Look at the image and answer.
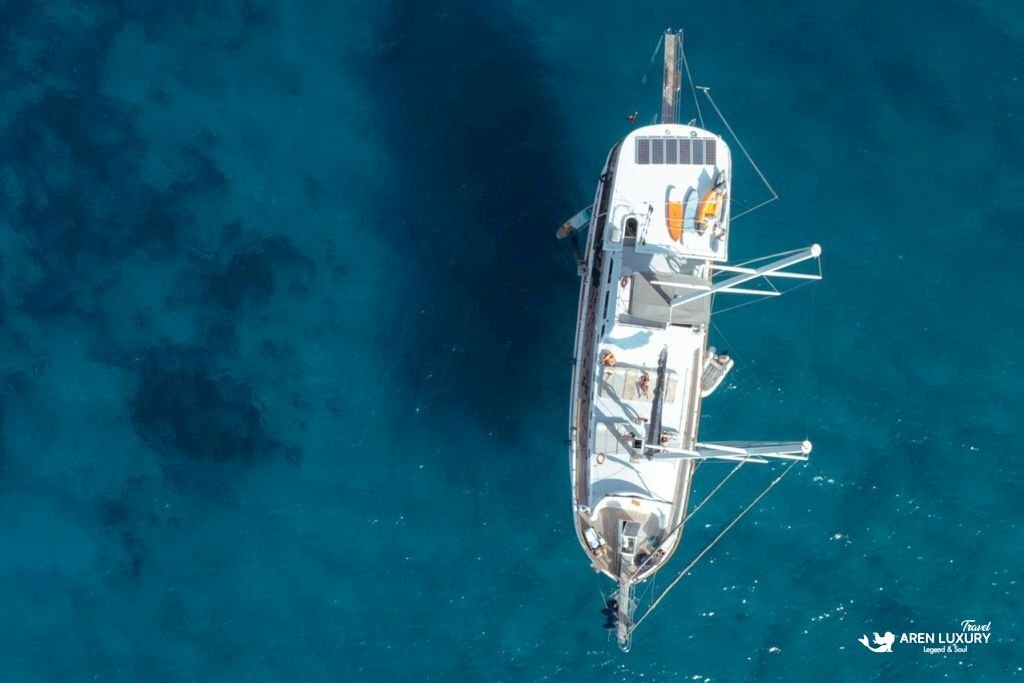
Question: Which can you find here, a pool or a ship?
ship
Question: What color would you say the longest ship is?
white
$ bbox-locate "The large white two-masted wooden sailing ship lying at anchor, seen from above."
[564,27,824,652]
